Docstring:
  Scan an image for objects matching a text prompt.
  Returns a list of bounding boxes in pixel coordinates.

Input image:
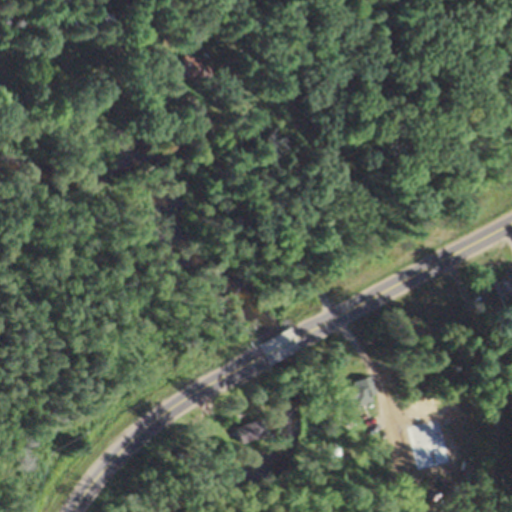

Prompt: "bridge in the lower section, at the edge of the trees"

[260,327,302,364]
